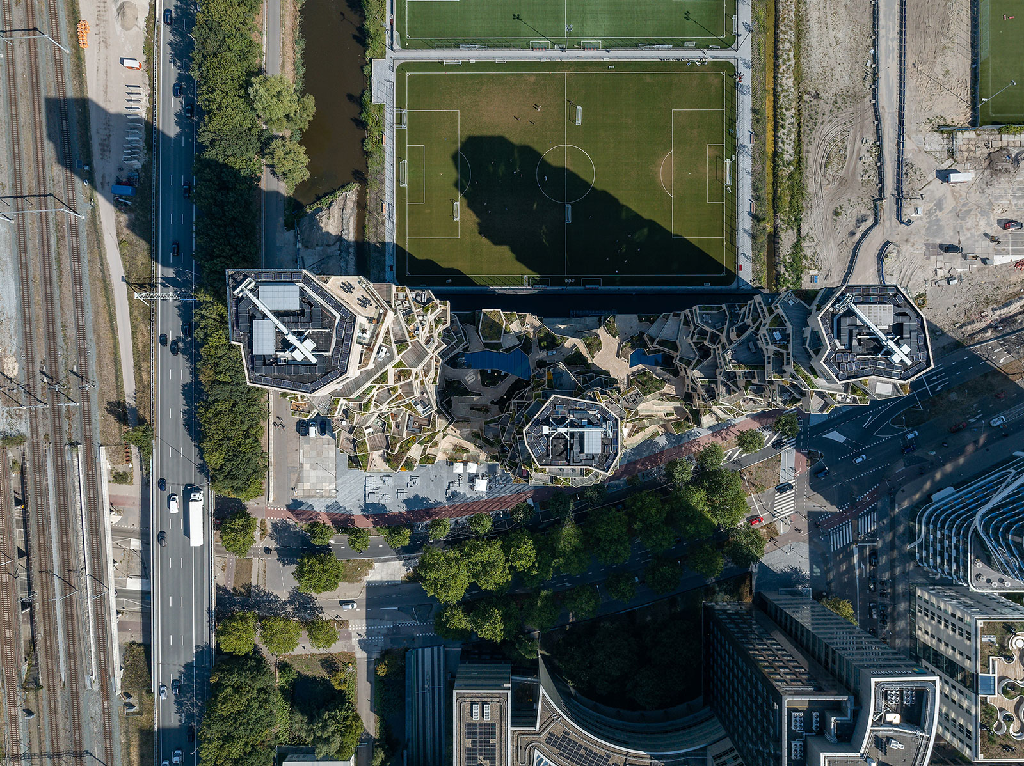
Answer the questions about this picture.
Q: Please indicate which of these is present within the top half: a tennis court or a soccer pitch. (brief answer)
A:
soccer pitch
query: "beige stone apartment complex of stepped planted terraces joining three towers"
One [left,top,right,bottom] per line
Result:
[225,268,934,486]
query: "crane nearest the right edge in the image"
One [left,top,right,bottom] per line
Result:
[834,292,914,366]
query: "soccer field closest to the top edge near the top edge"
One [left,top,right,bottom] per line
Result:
[396,0,736,48]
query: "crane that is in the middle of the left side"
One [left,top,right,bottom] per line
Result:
[231,276,318,363]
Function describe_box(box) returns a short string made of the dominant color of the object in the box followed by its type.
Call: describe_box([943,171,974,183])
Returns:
white vehicle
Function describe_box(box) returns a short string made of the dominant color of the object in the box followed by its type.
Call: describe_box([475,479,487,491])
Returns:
white umbrella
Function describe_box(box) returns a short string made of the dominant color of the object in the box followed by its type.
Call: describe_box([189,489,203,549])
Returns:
white vehicle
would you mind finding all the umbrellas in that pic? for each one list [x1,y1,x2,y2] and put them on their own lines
[475,479,487,491]
[467,463,477,473]
[453,463,463,472]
